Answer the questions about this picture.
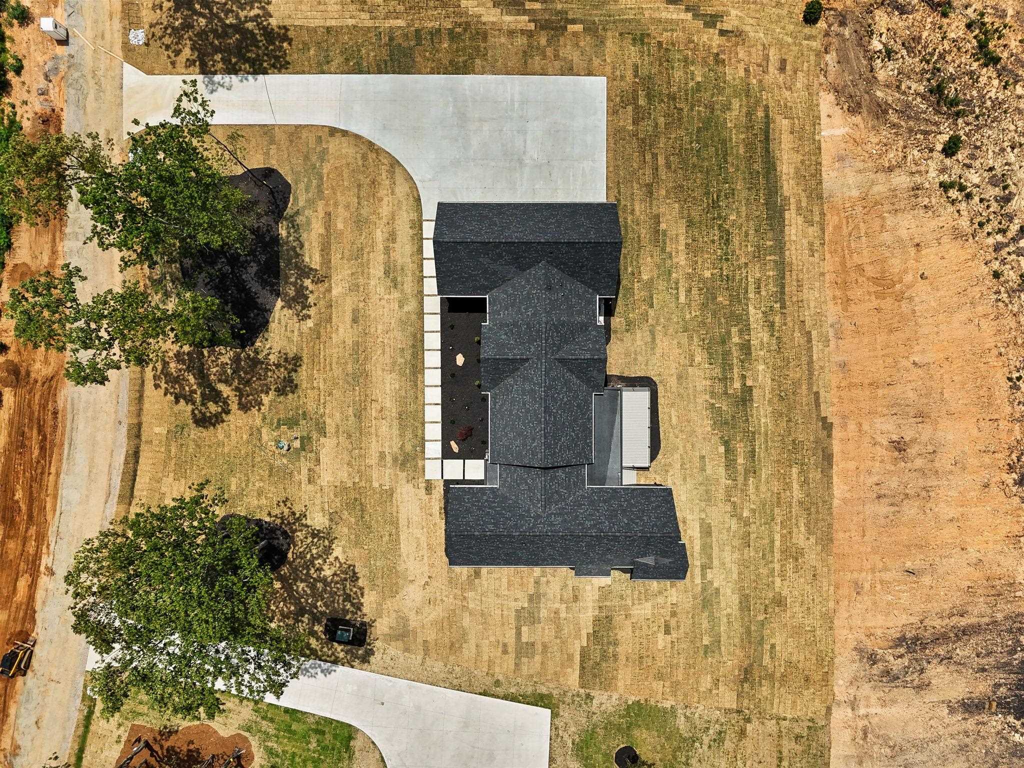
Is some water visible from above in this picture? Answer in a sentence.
No, no water is visible.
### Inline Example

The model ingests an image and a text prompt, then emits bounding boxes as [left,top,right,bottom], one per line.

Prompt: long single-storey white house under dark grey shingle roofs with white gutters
[433,201,689,581]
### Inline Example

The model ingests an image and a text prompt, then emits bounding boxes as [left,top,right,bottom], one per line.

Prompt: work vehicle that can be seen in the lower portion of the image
[0,634,37,682]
